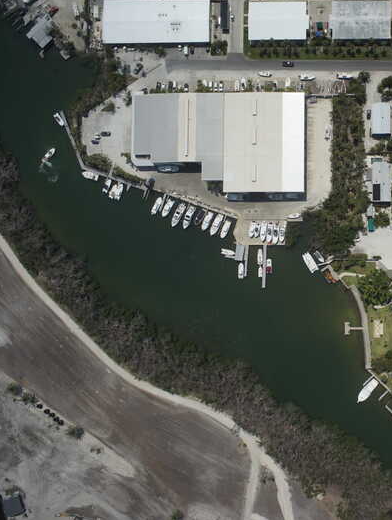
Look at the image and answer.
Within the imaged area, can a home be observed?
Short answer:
Yes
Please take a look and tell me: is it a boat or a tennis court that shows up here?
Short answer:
boat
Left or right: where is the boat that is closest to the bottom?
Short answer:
right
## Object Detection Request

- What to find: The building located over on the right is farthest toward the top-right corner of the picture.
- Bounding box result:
[331,1,390,40]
